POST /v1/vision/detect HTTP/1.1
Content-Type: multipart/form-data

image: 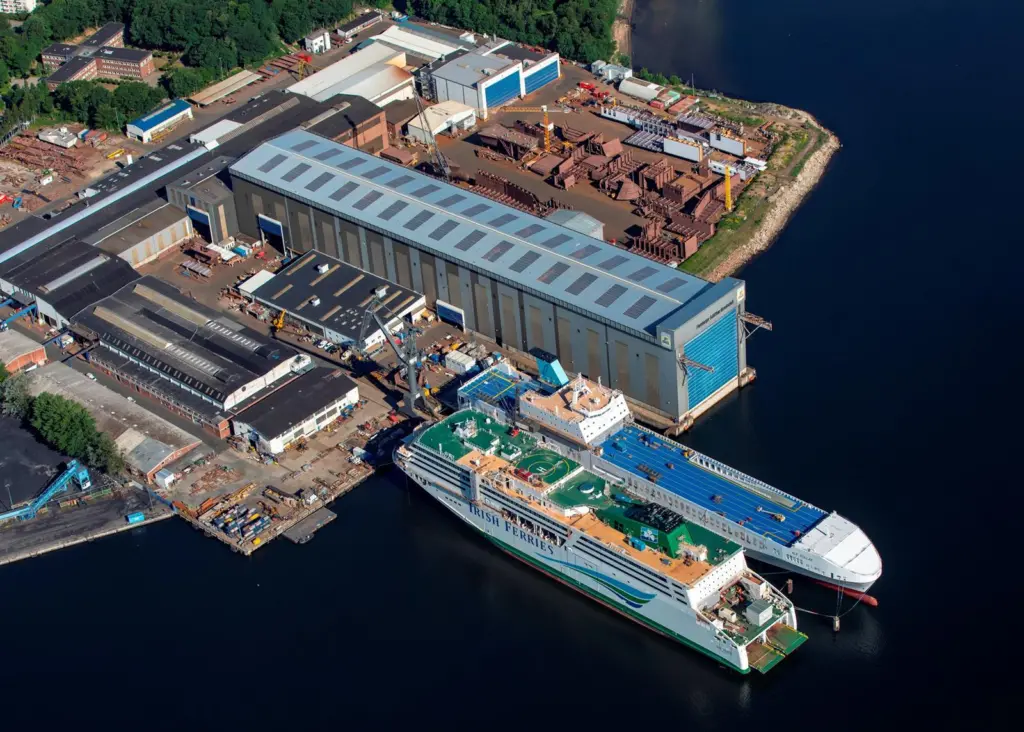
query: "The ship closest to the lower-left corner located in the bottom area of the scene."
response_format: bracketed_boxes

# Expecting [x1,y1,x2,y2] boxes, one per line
[286,509,337,546]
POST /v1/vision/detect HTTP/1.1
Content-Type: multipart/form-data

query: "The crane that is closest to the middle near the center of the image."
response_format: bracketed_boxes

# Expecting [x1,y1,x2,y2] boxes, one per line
[485,376,525,432]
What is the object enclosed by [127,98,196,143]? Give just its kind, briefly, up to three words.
shed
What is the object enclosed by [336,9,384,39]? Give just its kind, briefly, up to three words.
building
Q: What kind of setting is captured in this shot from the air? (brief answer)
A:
port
